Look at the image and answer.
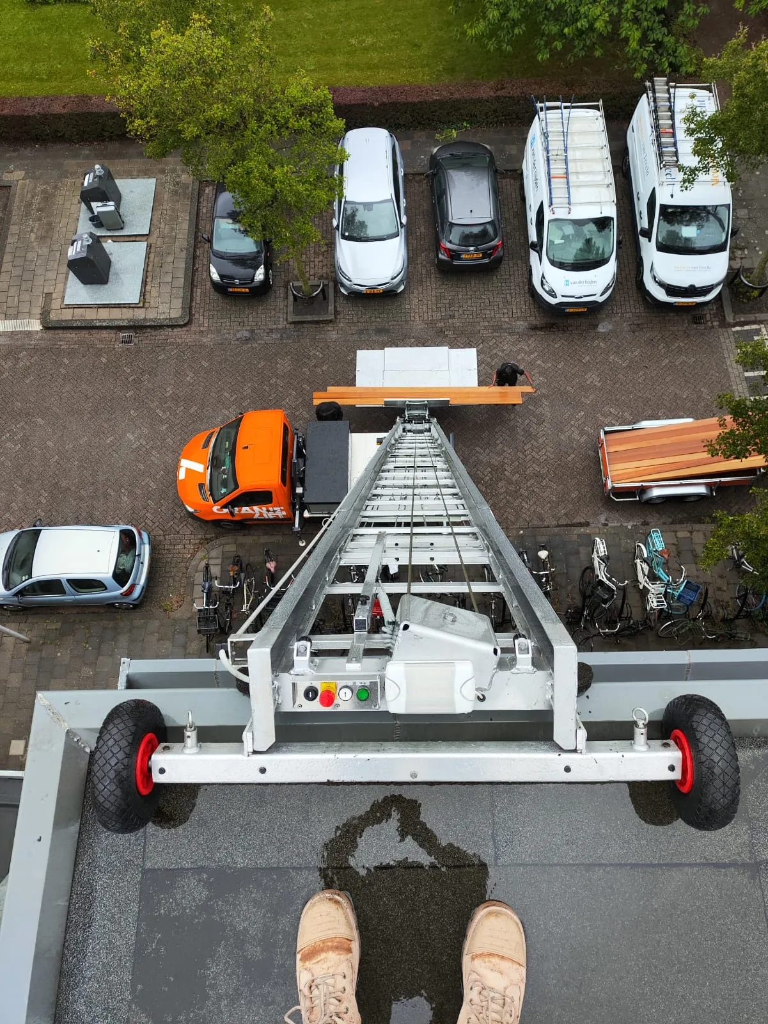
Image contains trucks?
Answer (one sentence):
Yes, this view includes a truck.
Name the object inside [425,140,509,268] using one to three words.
car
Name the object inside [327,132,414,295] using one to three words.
car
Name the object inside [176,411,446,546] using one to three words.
truck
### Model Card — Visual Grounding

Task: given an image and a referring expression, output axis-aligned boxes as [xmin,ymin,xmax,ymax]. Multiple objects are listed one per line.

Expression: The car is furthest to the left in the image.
[0,511,155,604]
